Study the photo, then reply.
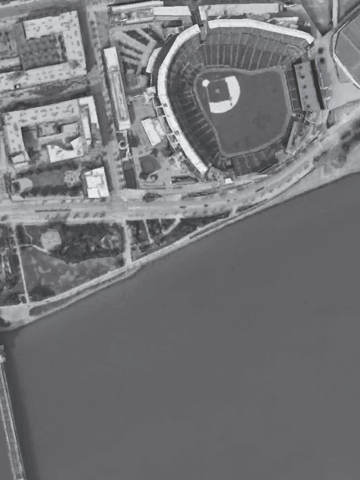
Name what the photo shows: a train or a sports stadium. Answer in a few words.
sports stadium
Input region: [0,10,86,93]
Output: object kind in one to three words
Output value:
building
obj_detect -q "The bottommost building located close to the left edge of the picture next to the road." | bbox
[1,97,98,163]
